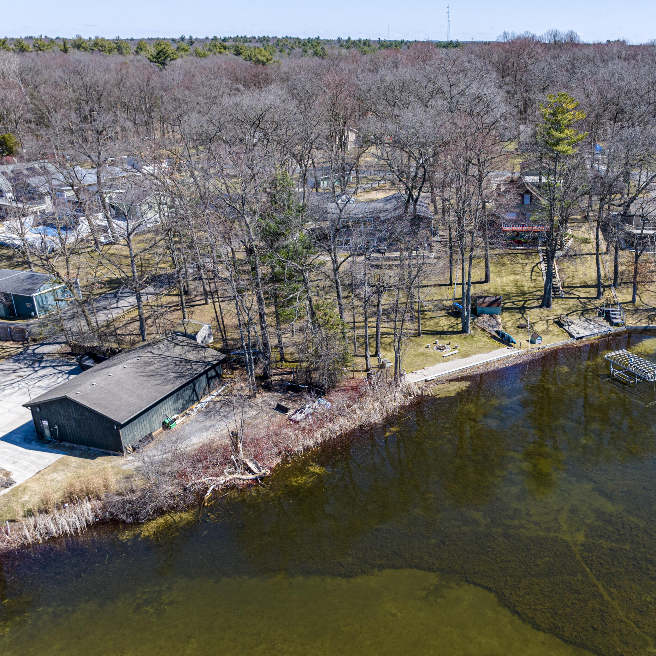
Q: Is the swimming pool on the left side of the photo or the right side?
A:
left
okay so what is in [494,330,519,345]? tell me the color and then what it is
blue boat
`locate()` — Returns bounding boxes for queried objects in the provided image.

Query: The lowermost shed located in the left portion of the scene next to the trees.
[18,336,226,454]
